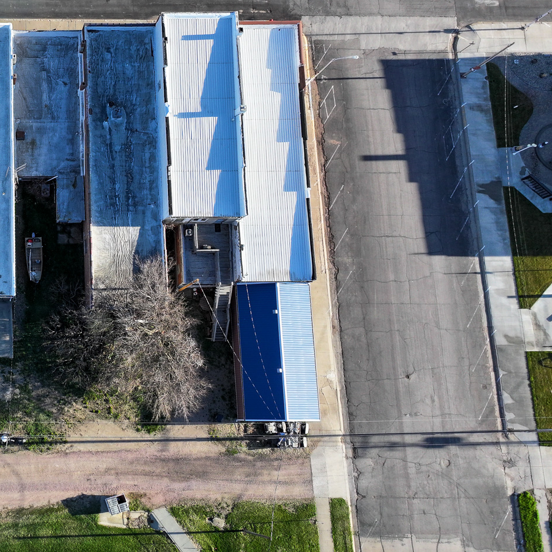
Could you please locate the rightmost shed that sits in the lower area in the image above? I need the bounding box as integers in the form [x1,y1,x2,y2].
[224,282,321,422]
